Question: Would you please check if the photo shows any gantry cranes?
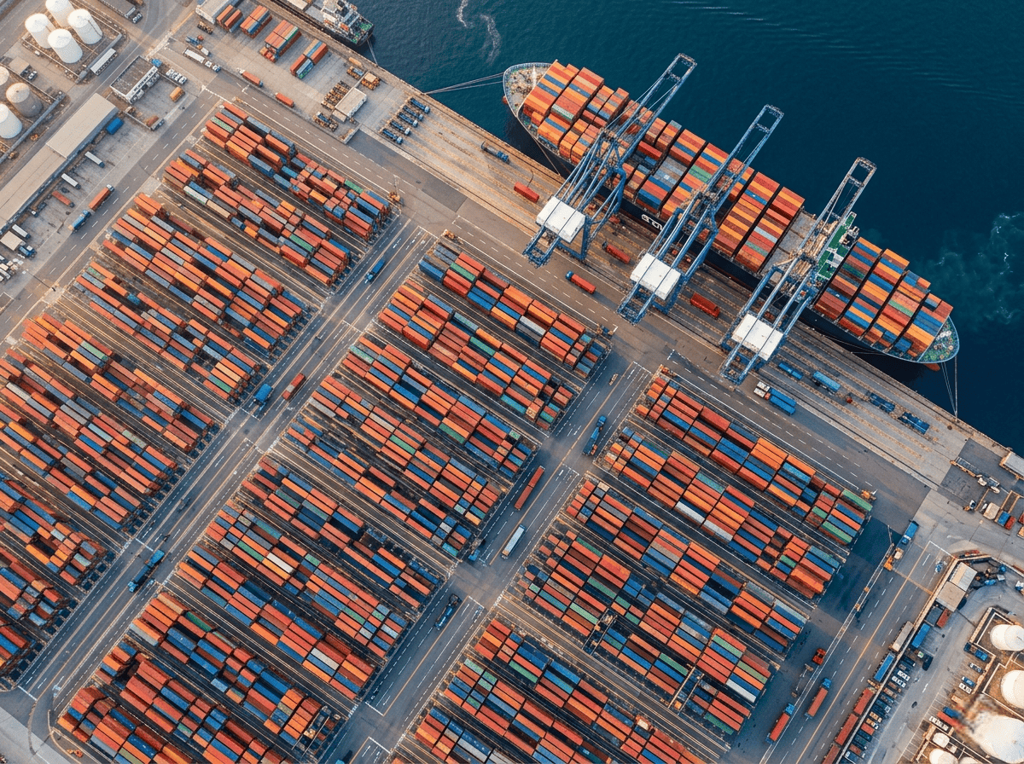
Yes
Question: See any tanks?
Yes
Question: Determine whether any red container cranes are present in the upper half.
No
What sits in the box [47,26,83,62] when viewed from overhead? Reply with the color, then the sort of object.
white storage tank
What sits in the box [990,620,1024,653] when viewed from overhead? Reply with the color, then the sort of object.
white storage tank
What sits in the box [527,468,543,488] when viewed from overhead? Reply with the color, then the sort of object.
red vehicle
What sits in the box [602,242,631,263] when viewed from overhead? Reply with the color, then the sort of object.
red truck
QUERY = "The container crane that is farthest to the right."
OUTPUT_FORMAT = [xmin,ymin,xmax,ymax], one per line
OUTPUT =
[713,151,883,396]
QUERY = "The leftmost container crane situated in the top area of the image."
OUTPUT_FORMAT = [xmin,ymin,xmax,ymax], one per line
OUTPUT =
[517,50,698,272]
